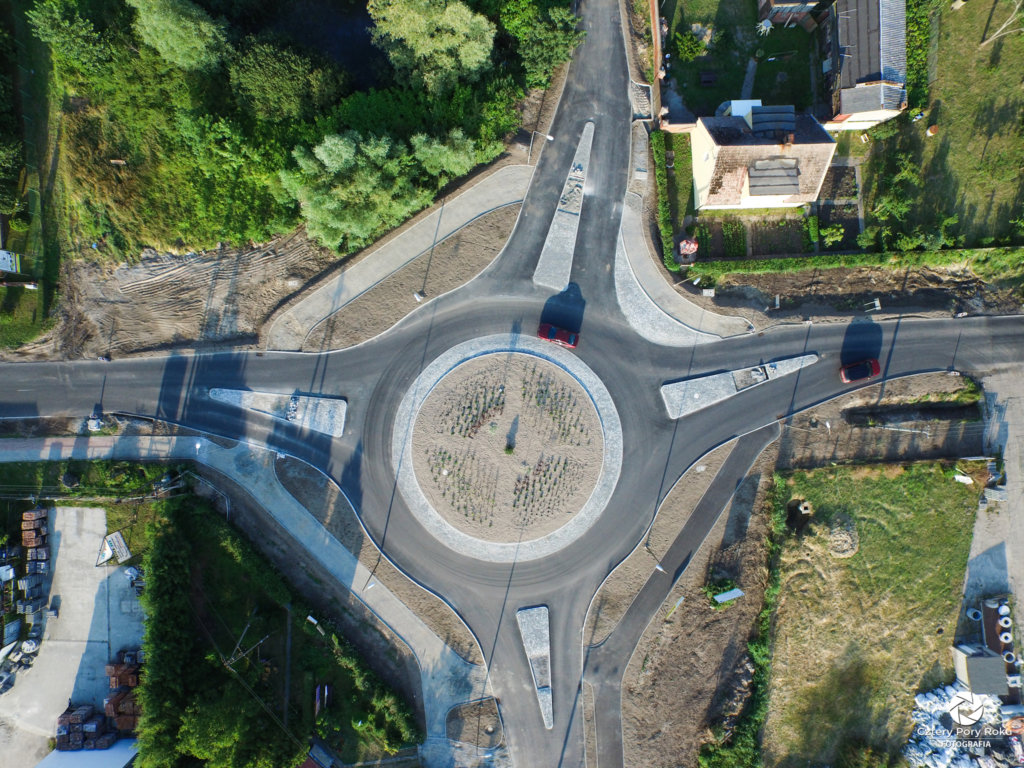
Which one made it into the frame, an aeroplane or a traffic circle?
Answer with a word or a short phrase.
traffic circle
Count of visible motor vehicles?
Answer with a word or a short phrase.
2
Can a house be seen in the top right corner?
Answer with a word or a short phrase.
Yes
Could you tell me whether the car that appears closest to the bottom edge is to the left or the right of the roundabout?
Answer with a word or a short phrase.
on the right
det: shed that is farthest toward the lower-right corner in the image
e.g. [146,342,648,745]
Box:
[952,637,1009,691]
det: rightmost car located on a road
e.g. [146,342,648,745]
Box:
[839,359,881,384]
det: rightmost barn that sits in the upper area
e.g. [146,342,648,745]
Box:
[821,0,909,135]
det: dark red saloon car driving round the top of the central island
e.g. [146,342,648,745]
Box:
[537,324,581,348]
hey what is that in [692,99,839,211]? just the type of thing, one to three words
house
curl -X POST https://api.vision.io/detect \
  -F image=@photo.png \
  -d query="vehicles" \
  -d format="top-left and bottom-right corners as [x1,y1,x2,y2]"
[537,324,581,348]
[839,359,881,384]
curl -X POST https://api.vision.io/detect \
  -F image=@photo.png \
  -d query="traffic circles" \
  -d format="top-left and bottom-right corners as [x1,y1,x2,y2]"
[393,333,623,563]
